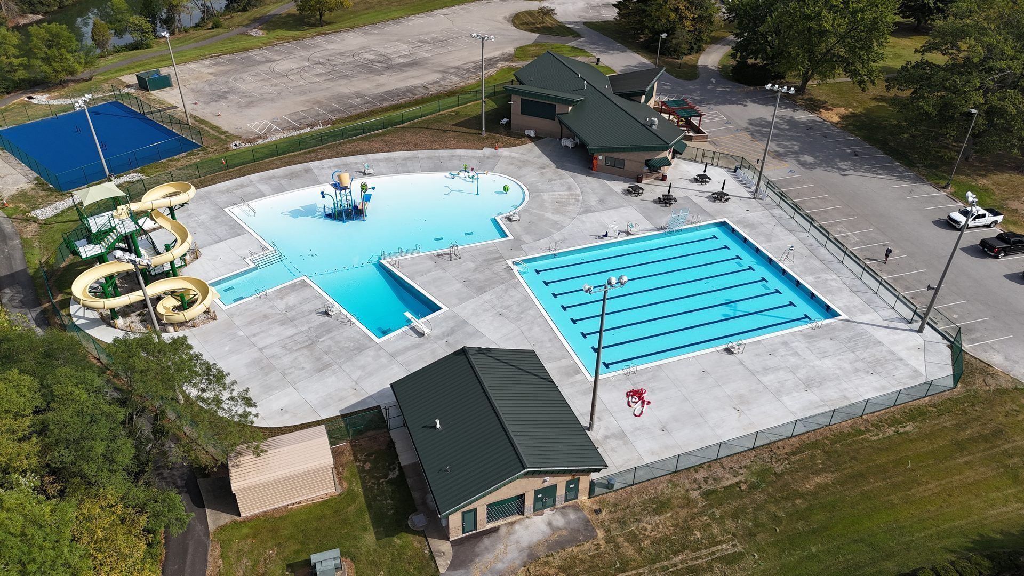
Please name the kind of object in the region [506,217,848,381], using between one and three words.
swimming pool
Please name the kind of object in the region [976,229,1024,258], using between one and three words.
truck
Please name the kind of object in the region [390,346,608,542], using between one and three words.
building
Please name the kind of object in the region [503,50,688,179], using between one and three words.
building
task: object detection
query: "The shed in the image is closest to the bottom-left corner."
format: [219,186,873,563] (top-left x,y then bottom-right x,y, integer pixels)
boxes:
[226,424,342,521]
